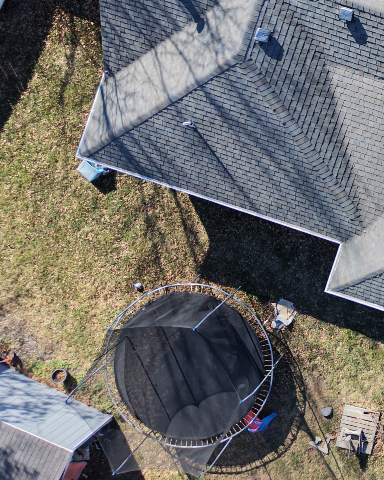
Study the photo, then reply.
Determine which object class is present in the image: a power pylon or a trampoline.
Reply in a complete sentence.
The image shows a trampoline.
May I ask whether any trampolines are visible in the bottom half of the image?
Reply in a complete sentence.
Yes, I can see a trampoline in the bottom half of the image.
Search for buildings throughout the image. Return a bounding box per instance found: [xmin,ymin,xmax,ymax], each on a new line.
[76,0,384,311]
[0,361,101,480]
